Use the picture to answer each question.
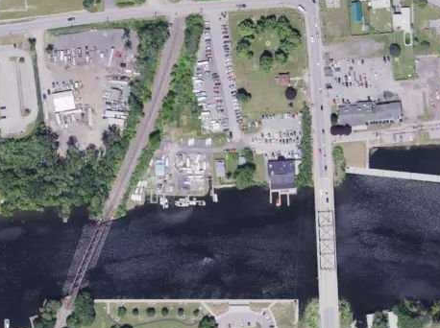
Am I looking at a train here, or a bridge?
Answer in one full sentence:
The one in the frame is a bridge.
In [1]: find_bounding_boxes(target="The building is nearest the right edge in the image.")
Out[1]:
[393,6,412,30]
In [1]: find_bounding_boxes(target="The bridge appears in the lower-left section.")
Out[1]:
[66,217,109,300]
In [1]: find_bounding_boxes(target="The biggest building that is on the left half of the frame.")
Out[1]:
[53,89,82,115]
